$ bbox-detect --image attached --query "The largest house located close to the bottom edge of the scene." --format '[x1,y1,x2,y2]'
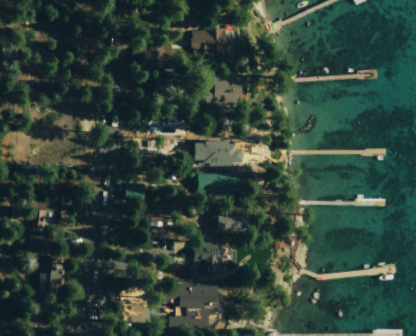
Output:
[164,284,218,327]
